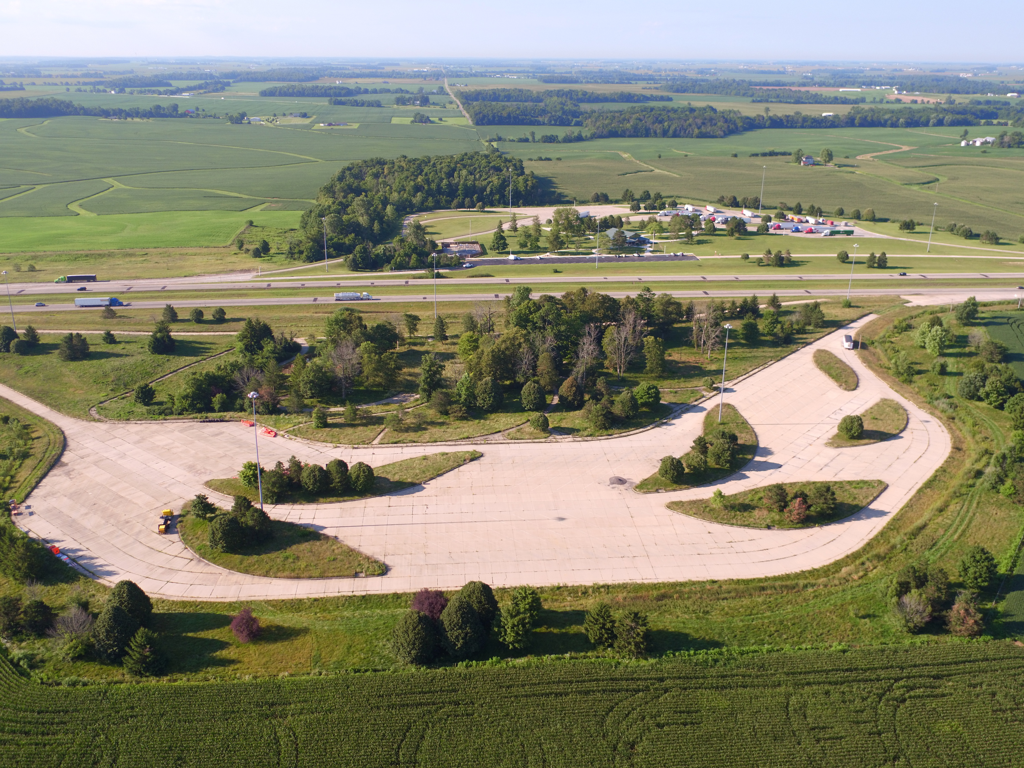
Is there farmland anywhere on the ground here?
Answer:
Yes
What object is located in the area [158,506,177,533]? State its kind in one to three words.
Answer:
vehicle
